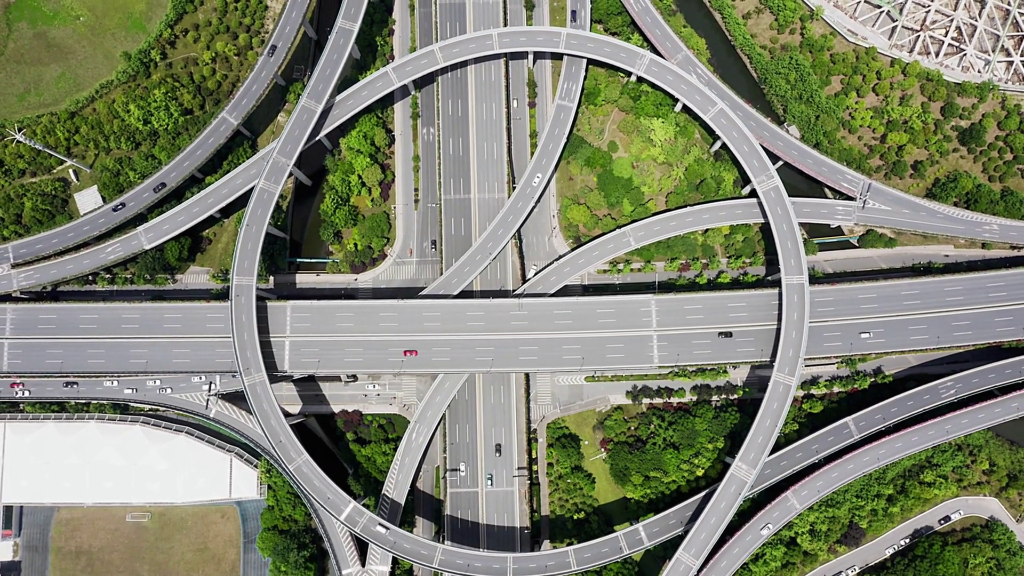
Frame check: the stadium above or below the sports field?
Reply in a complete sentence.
The stadium is located above the sports field in this view.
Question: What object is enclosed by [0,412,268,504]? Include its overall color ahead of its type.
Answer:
white stadium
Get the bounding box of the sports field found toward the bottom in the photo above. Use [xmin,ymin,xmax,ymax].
[50,506,242,576]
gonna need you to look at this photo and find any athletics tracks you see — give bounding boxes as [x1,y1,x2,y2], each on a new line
[17,491,267,576]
